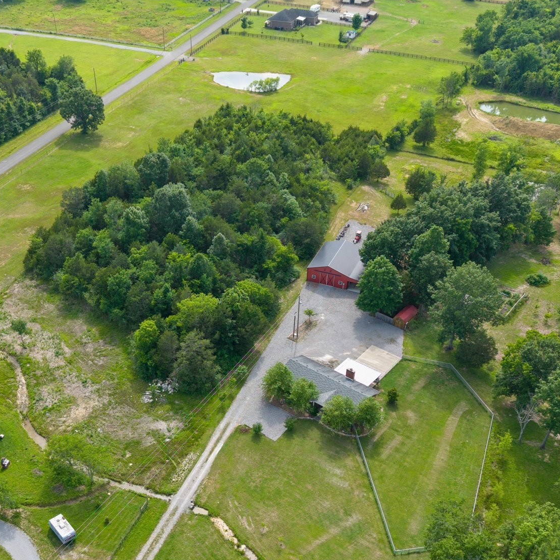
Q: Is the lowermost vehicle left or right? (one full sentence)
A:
The lowermost vehicle appears in the left half of the scene.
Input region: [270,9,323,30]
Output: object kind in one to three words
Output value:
house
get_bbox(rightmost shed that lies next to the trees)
[394,308,422,330]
